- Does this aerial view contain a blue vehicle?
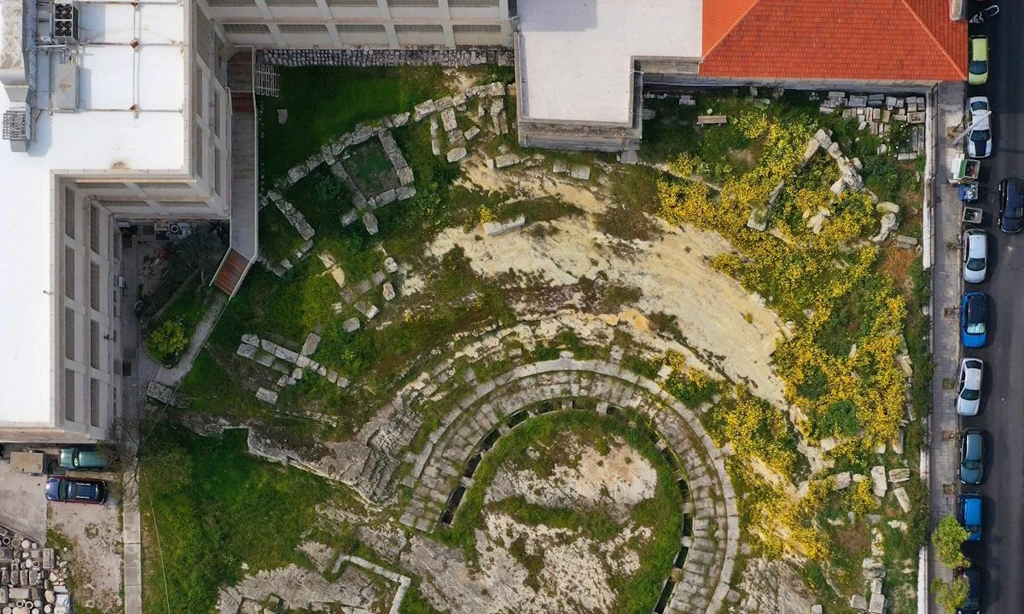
Yes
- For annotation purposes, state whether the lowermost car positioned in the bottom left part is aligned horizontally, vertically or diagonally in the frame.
horizontally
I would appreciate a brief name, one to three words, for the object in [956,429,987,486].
car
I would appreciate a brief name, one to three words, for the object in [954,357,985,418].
car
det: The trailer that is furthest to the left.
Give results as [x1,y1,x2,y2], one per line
[0,449,46,475]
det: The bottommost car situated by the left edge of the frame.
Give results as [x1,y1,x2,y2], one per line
[47,475,109,504]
